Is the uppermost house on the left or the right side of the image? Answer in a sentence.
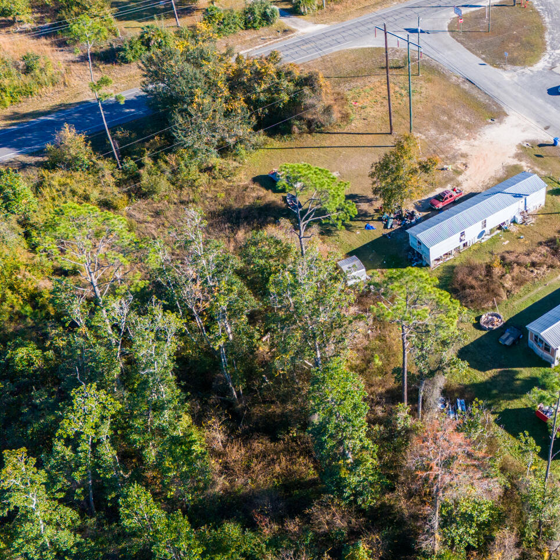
You can find the uppermost house on the right side of the picture.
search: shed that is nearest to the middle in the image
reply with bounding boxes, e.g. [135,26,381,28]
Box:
[332,253,367,284]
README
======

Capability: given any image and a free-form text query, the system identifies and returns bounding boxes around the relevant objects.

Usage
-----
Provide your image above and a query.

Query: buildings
[404,173,550,266]
[332,253,367,284]
[524,303,560,365]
